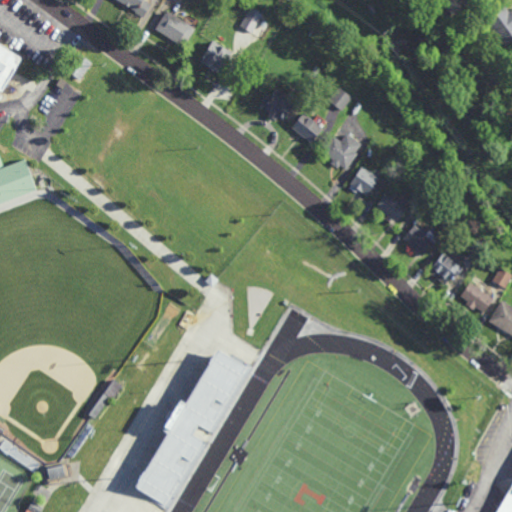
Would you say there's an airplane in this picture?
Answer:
No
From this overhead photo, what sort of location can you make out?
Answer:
sports ground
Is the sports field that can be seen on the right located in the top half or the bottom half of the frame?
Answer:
bottom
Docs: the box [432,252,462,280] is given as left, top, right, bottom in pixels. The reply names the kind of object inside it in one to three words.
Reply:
house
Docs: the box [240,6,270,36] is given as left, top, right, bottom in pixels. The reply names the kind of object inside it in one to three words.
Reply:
house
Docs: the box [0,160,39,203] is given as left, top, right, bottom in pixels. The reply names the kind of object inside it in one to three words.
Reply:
building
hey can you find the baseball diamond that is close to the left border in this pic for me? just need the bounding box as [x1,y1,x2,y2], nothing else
[0,198,160,467]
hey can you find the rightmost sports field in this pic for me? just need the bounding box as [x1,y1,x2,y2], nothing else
[193,352,436,512]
